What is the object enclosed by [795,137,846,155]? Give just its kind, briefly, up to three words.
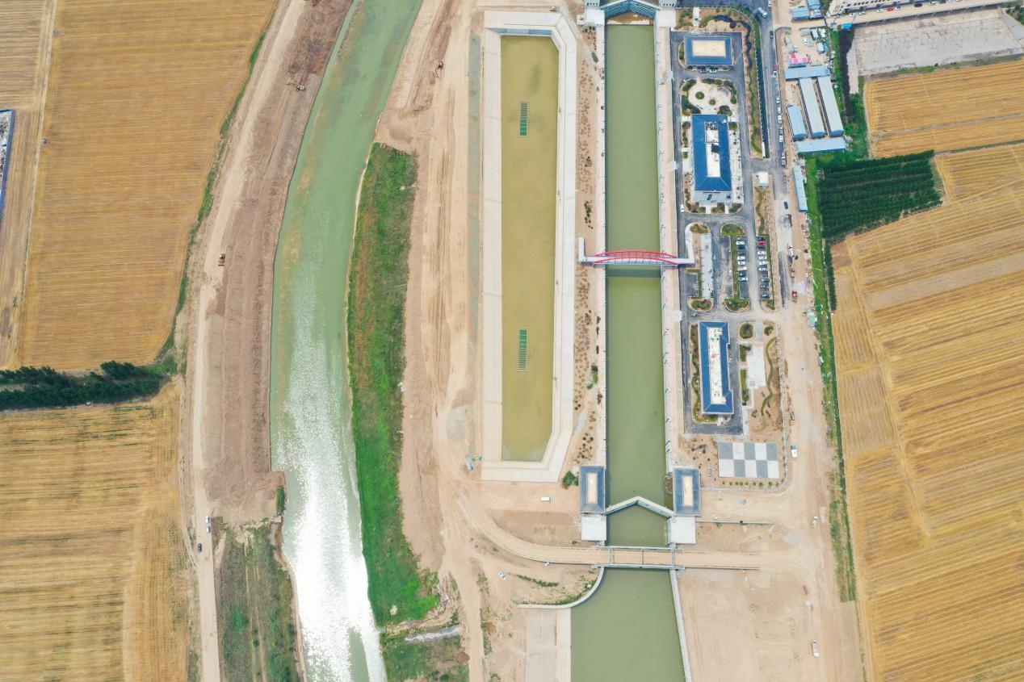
shed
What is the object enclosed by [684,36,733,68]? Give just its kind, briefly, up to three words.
building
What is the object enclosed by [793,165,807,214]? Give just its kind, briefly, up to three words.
shed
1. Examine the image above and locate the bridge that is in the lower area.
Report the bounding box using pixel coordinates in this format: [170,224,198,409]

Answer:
[593,546,685,570]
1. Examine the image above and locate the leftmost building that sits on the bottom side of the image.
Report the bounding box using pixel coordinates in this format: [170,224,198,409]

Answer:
[579,466,606,513]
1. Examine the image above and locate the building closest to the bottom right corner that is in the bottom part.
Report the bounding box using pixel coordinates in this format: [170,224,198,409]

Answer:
[673,468,702,516]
